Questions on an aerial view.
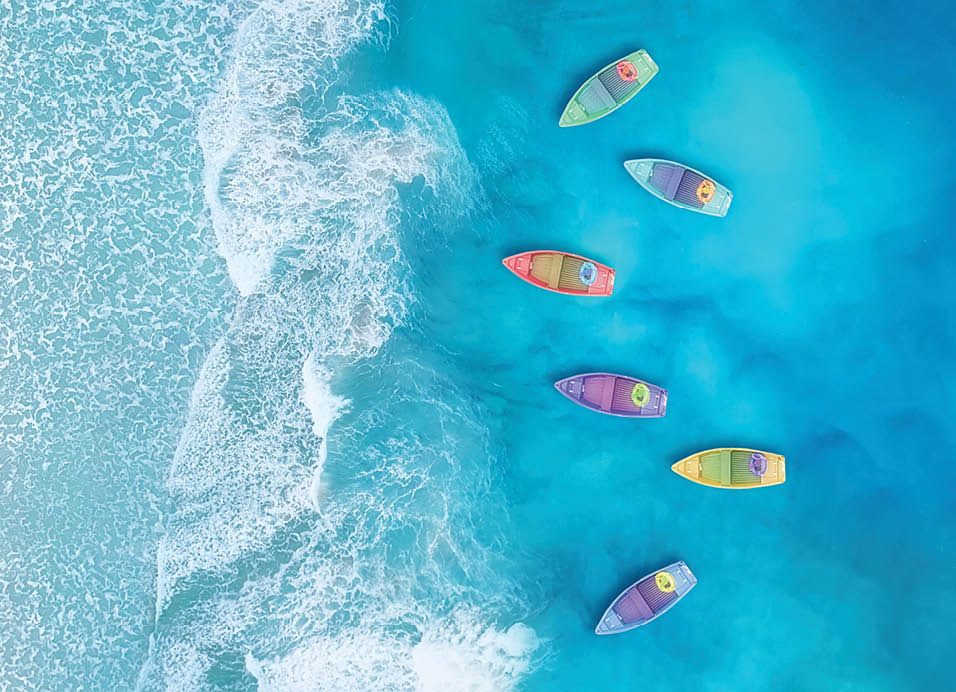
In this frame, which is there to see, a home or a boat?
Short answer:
boat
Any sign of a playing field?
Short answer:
No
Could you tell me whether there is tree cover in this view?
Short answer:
No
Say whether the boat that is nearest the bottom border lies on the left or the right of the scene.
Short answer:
right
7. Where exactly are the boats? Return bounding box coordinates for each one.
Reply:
[559,49,659,127]
[596,561,697,636]
[624,159,734,218]
[502,251,615,296]
[672,448,786,489]
[555,374,668,417]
